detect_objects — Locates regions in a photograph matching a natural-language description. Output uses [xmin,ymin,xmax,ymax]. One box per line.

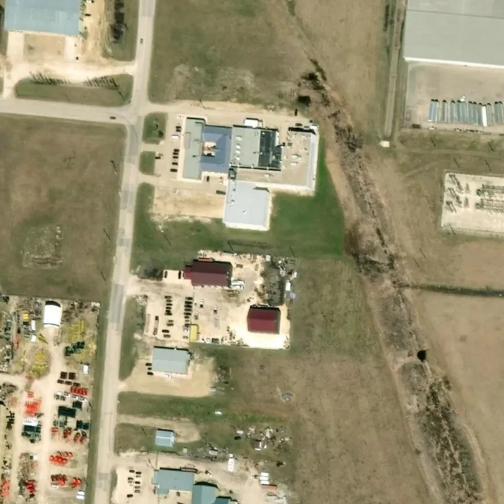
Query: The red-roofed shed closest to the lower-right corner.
[247,307,282,336]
